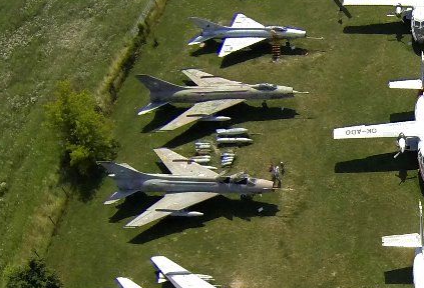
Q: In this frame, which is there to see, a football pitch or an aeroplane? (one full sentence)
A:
The one in the frame is an aeroplane.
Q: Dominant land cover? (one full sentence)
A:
The largest share of the image is taken up by grass.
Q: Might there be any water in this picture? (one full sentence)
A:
No, there is no water in the image.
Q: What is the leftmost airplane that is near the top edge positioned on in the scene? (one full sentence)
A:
The leftmost airplane that is near the top edge rests on the grass.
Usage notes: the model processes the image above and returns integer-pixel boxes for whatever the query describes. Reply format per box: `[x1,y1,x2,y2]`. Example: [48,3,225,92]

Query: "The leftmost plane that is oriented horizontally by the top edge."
[190,14,322,57]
